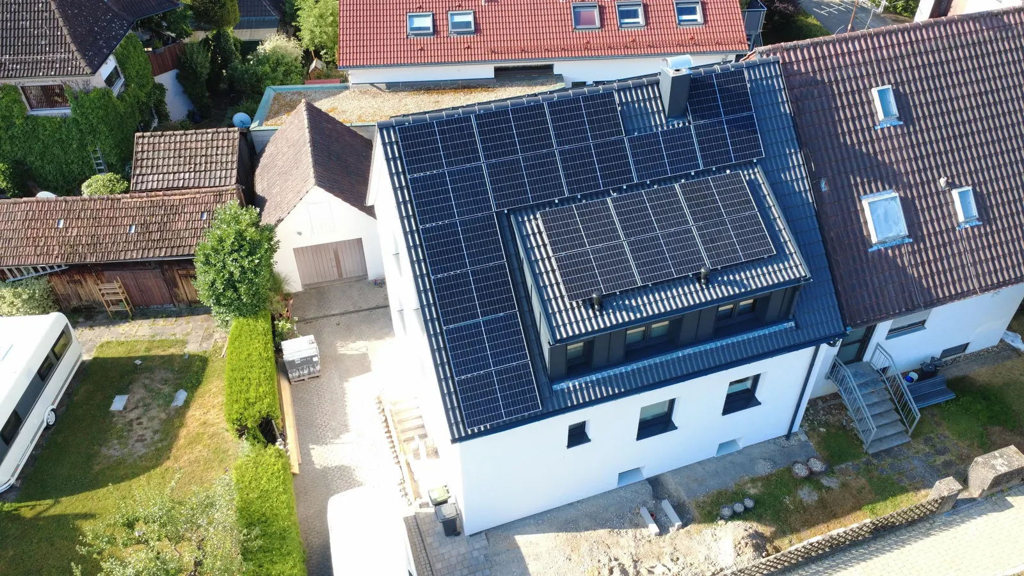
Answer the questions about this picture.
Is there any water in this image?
No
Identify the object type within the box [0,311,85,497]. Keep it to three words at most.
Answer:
camper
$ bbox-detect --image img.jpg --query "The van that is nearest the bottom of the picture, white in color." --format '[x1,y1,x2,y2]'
[327,488,424,576]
